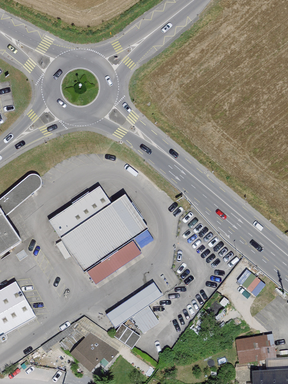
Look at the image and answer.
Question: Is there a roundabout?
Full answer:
Yes, the photo shows a roundabout.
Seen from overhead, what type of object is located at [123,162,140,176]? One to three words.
vehicle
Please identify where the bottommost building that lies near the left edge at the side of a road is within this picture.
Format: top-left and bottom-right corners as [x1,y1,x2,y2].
[0,282,36,338]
